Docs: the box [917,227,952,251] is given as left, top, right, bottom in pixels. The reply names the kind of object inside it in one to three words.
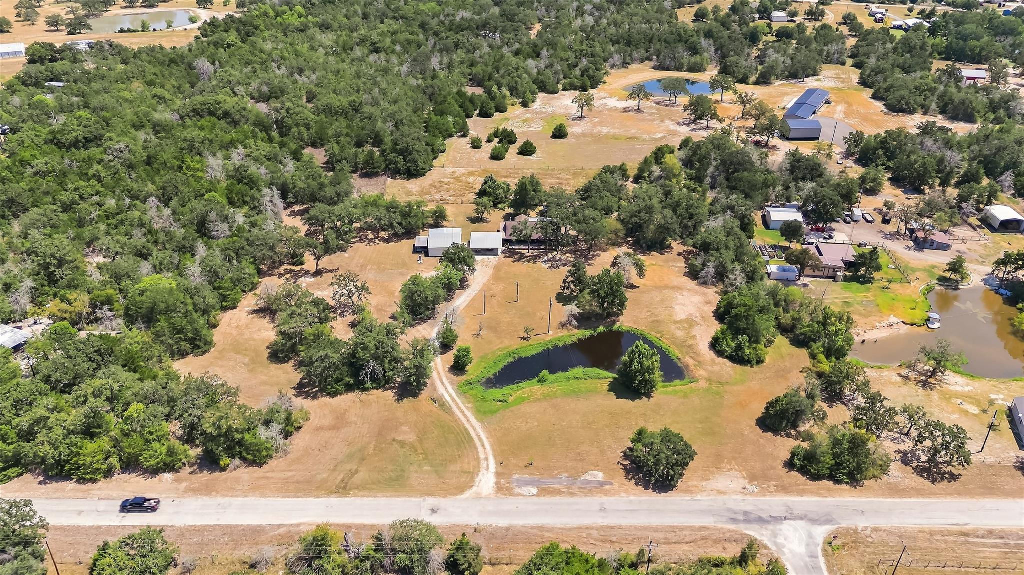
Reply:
building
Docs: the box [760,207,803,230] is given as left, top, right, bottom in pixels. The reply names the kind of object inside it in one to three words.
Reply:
shed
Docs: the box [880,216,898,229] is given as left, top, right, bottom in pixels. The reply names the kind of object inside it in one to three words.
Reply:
vehicle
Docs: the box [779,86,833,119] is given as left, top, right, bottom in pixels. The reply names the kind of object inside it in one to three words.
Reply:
house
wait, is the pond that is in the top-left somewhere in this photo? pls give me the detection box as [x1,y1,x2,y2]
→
[86,10,193,33]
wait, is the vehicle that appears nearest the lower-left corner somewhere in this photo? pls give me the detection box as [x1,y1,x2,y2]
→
[113,495,160,513]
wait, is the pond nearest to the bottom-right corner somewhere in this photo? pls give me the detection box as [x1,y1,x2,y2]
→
[851,286,1024,378]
